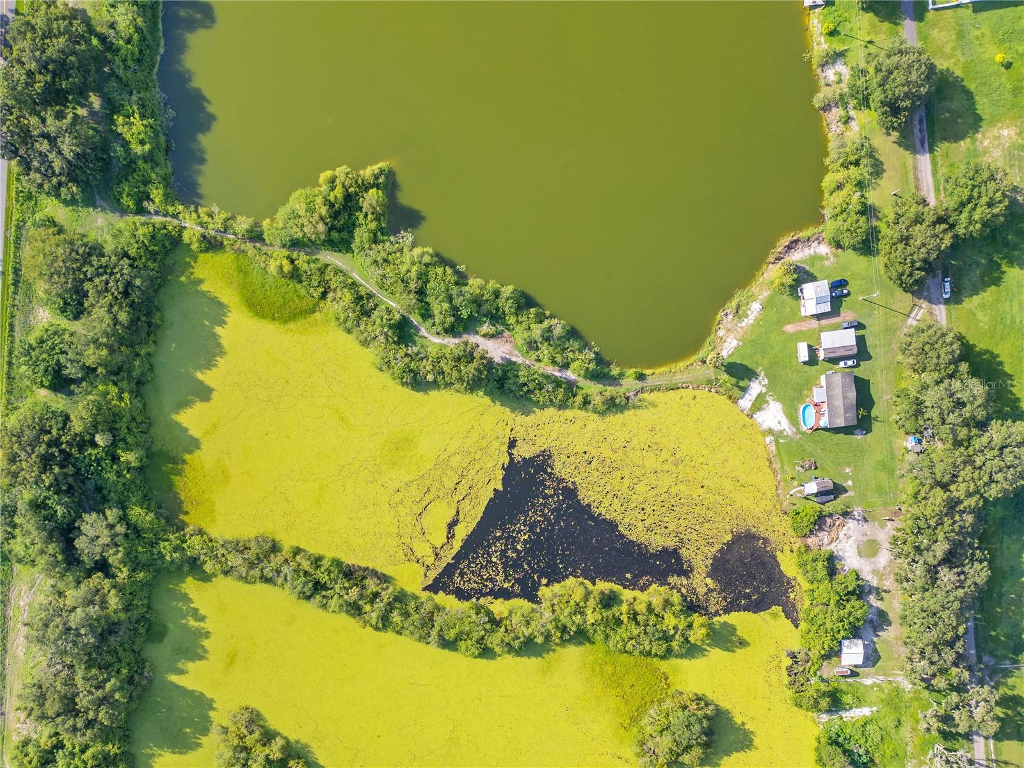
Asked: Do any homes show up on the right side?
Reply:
Yes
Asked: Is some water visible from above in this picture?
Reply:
Yes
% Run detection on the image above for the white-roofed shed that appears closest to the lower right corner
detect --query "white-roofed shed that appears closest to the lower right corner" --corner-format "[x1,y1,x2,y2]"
[838,637,865,664]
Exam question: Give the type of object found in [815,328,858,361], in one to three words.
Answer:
house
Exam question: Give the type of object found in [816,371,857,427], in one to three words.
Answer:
house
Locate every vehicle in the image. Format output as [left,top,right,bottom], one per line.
[941,278,952,299]
[828,278,847,288]
[840,320,860,329]
[838,359,857,368]
[831,287,849,297]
